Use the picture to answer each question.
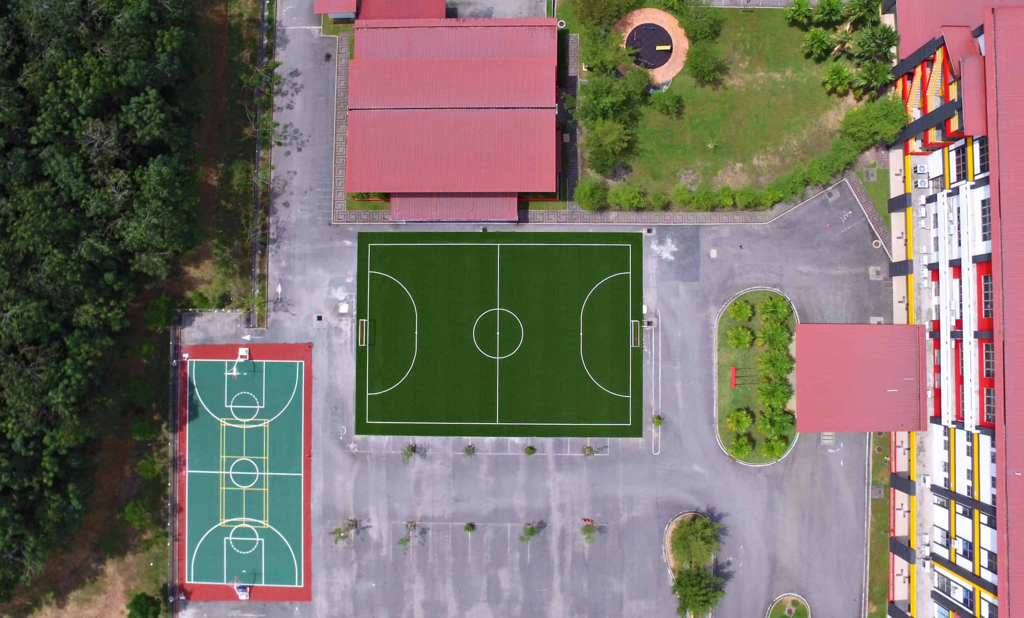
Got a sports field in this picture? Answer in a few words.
Yes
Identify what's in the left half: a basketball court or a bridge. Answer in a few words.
basketball court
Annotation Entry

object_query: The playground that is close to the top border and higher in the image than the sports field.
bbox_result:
[614,8,689,83]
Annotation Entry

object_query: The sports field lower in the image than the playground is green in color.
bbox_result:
[354,231,644,439]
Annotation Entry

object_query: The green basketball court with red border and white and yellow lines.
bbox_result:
[179,343,312,601]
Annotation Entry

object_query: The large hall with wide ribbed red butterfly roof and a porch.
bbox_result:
[345,18,562,225]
